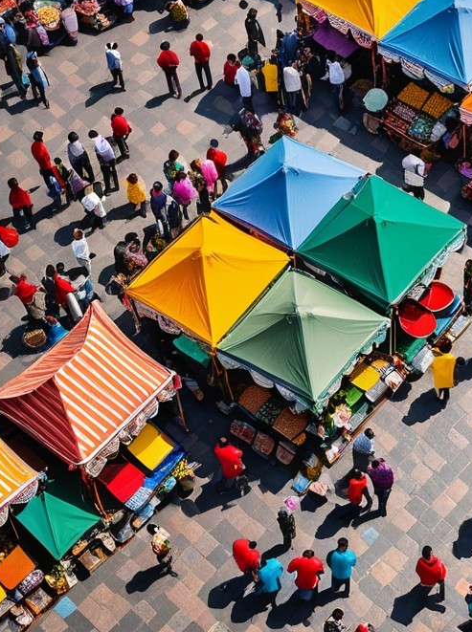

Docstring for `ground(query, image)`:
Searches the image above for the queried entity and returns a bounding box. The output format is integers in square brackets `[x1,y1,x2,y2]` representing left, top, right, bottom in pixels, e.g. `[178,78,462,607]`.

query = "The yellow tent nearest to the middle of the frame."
[124,214,291,403]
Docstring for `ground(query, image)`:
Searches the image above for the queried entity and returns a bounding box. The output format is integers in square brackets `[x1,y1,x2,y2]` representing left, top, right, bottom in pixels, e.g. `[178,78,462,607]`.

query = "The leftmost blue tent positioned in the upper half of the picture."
[211,136,369,272]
